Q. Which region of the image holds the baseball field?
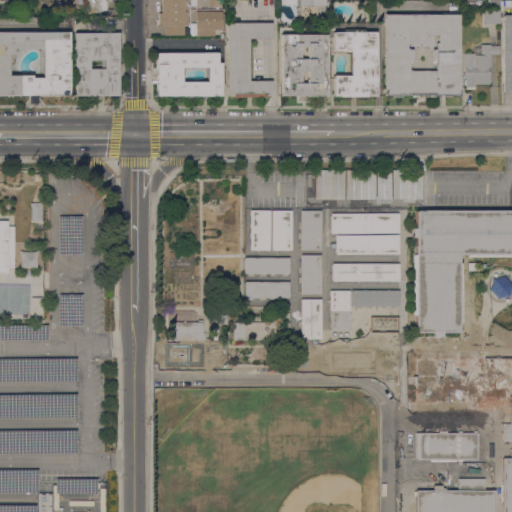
bottom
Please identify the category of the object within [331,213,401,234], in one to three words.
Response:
building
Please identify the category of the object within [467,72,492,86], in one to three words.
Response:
house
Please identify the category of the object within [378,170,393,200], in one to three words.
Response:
building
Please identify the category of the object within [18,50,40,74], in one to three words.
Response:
swimming pool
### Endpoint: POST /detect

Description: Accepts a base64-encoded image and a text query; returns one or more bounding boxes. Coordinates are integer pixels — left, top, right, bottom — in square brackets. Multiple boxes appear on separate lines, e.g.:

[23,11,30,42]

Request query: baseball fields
[154,387,384,512]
